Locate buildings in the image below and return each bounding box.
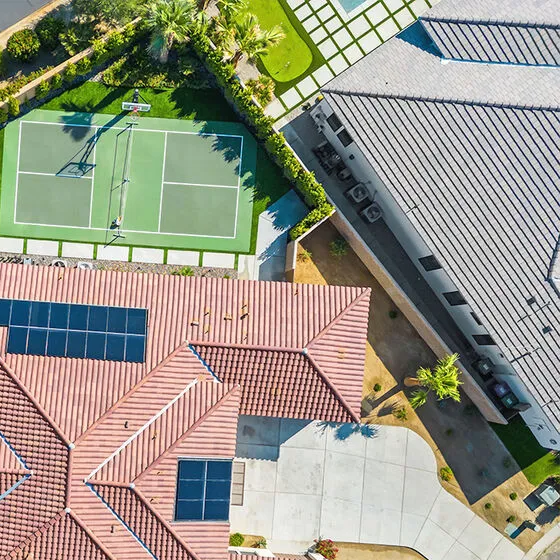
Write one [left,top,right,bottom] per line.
[309,0,560,448]
[0,264,372,560]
